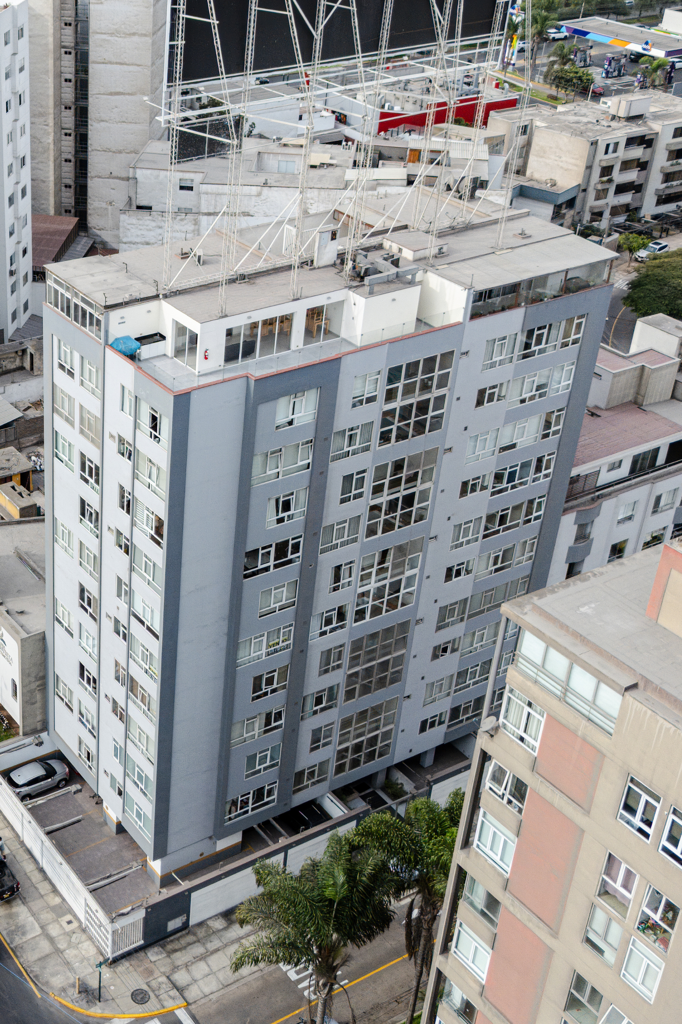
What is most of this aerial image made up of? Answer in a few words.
buildings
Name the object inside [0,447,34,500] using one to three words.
house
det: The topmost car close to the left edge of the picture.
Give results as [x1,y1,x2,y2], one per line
[6,757,73,801]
